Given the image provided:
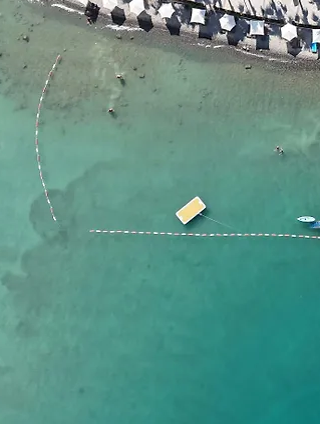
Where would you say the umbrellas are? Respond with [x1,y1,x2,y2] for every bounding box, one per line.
[312,29,320,43]
[280,23,296,40]
[129,0,145,16]
[103,0,118,10]
[159,2,175,18]
[219,13,235,31]
[190,8,206,23]
[250,20,264,35]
